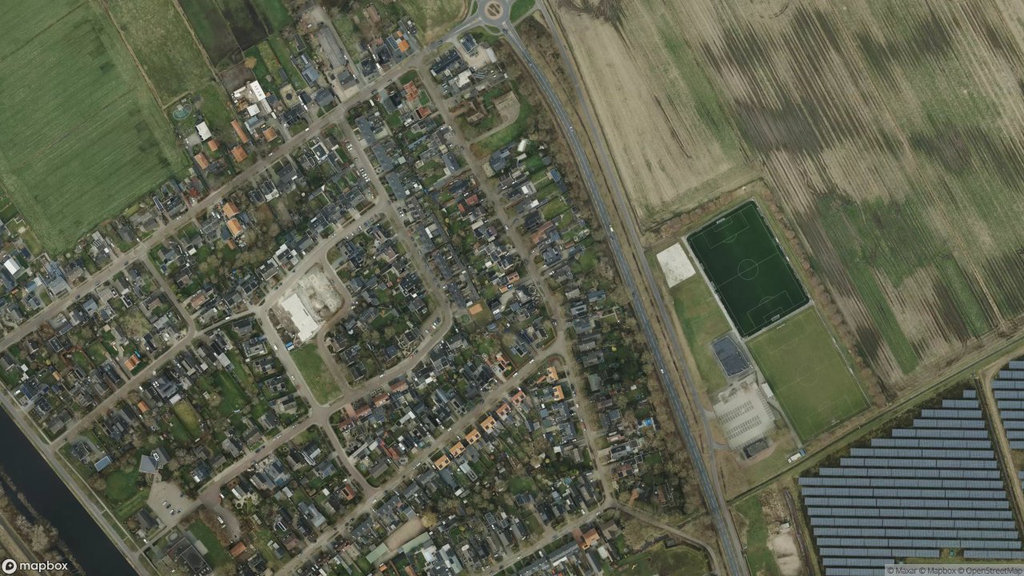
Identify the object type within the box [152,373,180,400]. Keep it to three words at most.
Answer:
house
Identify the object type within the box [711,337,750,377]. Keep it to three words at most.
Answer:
sports court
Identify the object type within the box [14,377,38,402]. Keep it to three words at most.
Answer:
house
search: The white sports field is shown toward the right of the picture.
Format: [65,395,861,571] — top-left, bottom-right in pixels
[656,243,695,288]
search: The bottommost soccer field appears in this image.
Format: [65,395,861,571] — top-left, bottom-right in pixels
[749,308,867,440]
